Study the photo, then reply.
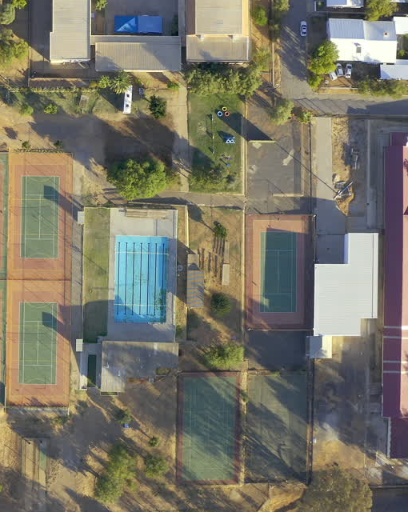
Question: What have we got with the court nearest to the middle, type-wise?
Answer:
tennis court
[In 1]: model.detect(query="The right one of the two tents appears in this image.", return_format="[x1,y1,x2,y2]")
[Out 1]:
[137,16,163,35]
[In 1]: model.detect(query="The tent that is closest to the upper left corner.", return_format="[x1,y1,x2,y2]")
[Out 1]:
[114,16,137,34]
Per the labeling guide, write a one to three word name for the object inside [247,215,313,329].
tennis court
